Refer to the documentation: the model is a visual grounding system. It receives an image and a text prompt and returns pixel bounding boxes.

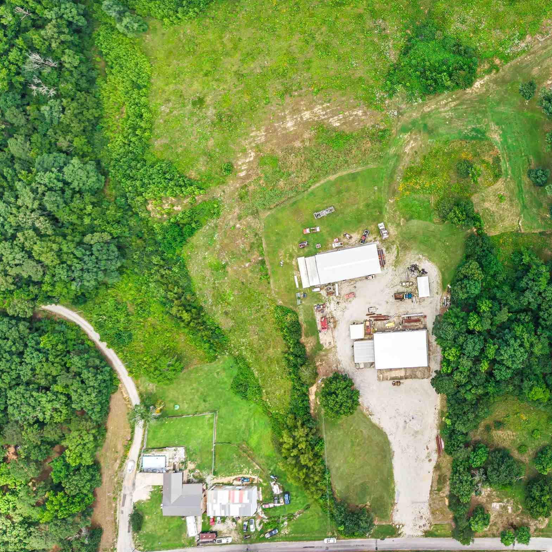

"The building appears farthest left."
[163,471,204,516]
